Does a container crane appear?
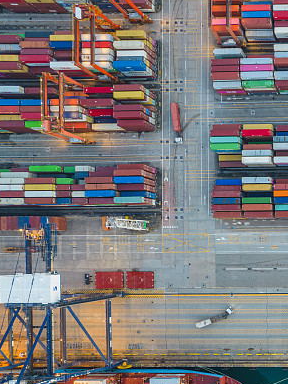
Yes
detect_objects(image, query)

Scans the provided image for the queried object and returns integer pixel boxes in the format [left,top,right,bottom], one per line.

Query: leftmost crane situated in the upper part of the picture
[39,70,89,140]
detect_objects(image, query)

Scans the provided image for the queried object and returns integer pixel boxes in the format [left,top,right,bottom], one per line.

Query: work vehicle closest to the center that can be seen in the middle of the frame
[99,216,146,229]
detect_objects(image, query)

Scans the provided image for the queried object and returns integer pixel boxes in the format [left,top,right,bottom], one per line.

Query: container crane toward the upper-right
[208,0,246,46]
